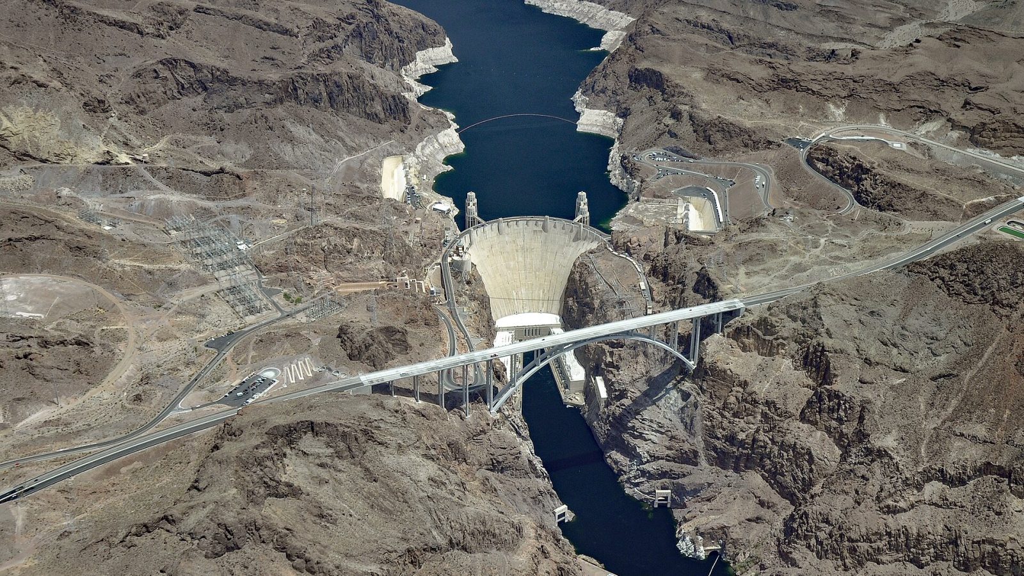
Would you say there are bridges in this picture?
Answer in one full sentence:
Yes, this view includes a bridge.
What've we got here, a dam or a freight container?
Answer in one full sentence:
The image shows a dam.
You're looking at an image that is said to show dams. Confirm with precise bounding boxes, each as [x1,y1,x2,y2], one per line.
[447,215,620,323]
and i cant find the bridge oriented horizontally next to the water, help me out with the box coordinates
[358,298,749,425]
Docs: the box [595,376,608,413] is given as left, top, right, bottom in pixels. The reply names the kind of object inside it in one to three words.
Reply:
building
